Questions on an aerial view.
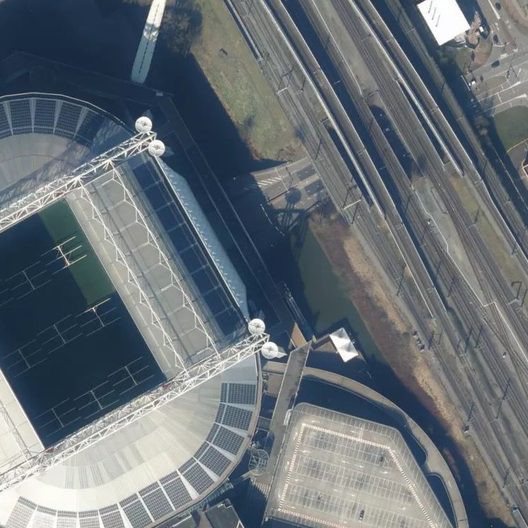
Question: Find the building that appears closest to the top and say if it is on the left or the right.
right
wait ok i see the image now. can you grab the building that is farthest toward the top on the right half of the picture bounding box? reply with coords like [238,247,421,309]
[416,0,471,45]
